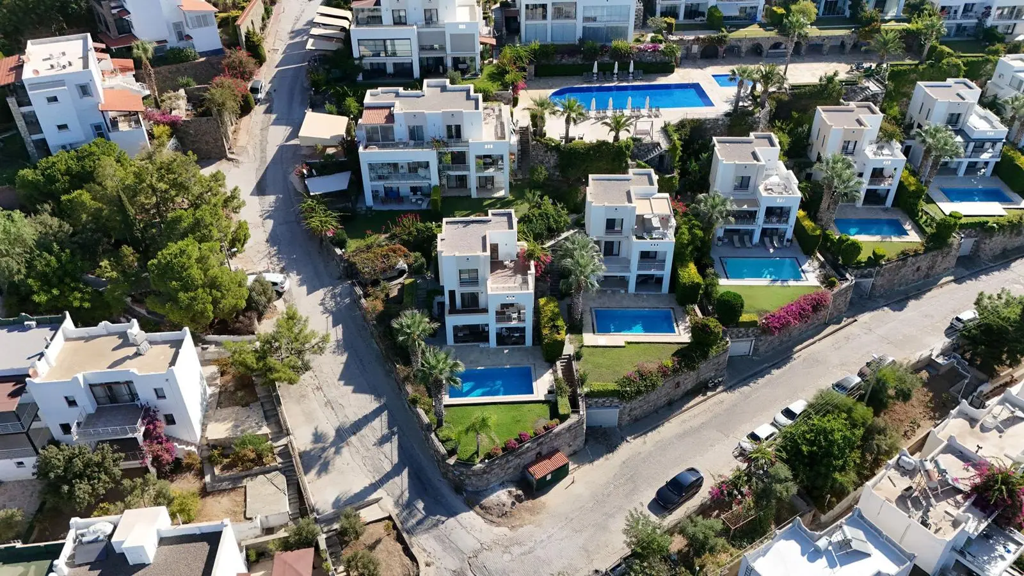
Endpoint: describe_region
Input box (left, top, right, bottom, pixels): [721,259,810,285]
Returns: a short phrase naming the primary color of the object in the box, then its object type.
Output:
blue swimming pool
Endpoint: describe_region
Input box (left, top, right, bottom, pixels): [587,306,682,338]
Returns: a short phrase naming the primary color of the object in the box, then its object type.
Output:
blue swimming pool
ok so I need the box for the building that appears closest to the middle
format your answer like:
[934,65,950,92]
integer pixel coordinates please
[440,206,533,346]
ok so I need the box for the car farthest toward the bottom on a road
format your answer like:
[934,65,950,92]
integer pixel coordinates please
[652,471,701,511]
